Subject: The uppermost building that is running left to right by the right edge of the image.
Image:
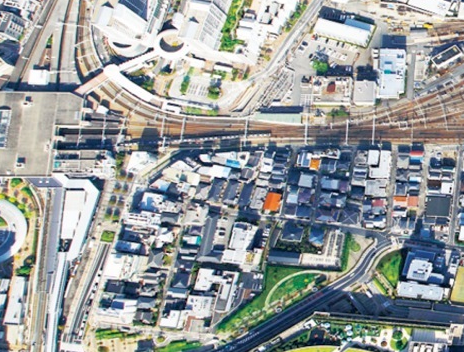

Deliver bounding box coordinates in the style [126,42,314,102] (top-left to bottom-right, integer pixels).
[406,0,450,19]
